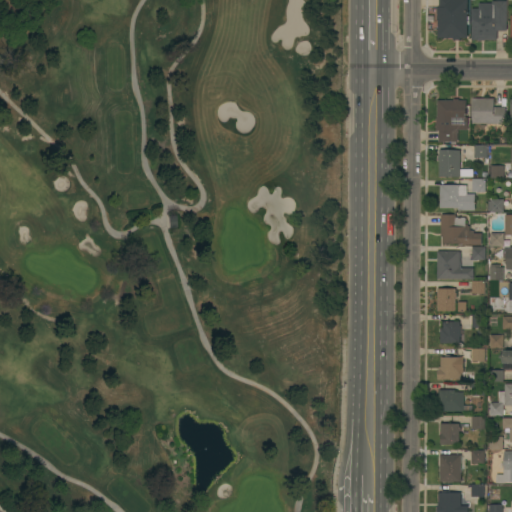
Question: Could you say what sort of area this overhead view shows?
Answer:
golf course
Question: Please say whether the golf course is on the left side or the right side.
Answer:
left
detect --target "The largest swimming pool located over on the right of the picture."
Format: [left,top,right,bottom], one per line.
[492,214,506,232]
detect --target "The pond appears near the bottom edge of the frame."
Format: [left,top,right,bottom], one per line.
[178,414,234,492]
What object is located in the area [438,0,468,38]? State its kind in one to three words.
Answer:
house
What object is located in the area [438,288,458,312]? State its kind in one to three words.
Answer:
house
